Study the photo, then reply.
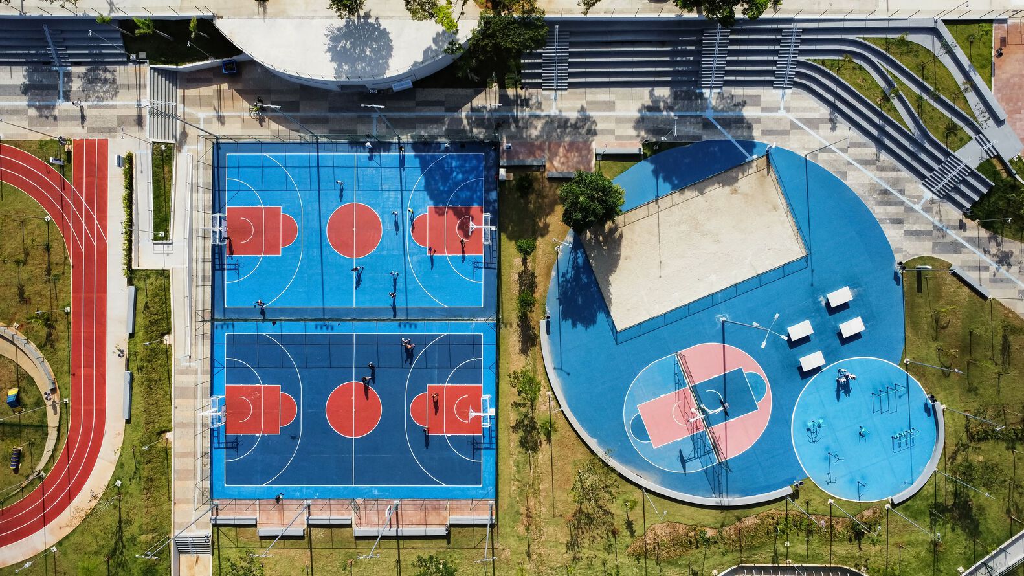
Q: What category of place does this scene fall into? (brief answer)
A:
sports ground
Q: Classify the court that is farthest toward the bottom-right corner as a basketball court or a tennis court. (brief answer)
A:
basketball court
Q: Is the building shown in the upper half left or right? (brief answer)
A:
left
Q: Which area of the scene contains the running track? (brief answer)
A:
left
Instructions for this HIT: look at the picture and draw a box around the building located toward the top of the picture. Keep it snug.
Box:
[213,16,480,92]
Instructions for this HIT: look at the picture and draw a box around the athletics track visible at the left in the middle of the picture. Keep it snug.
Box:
[0,139,109,548]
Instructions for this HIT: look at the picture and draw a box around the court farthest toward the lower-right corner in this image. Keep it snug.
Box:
[623,343,774,471]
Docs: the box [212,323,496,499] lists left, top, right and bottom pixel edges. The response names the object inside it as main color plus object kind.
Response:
blue sports court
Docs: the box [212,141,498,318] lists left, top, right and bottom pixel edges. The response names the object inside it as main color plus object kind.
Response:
blue sports court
